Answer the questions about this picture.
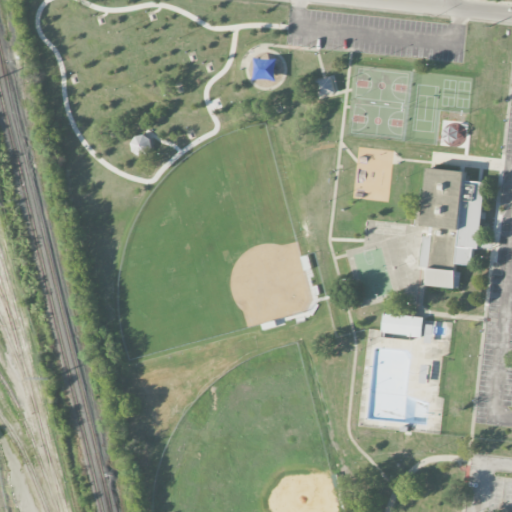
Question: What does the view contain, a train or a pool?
pool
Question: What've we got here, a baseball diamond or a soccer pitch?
baseball diamond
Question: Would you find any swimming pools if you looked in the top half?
No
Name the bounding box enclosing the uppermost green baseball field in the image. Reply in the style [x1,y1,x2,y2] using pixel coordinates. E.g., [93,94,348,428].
[119,125,318,358]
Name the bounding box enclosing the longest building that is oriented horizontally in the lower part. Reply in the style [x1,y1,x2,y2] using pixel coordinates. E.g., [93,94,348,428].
[381,314,424,338]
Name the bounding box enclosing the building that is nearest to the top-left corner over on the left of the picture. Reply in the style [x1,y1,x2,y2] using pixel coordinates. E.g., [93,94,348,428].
[130,134,151,155]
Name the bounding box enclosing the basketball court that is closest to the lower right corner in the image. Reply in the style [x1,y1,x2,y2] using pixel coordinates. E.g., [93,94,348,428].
[356,250,391,295]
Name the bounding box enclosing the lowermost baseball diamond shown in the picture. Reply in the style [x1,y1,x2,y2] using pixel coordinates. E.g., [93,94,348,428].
[153,343,342,512]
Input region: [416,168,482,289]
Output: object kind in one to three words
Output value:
building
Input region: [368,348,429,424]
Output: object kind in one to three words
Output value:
swimming pool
